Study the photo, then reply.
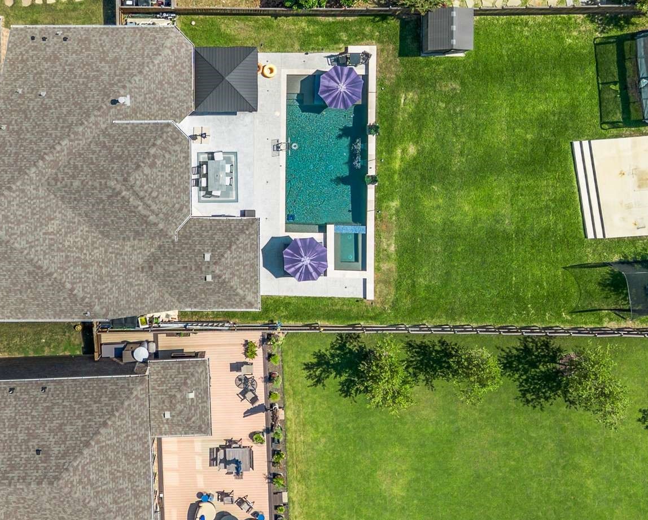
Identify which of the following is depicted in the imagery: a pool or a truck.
pool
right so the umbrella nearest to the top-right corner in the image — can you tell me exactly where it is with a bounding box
[317,65,364,111]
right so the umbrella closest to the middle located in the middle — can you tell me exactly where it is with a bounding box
[282,236,327,282]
